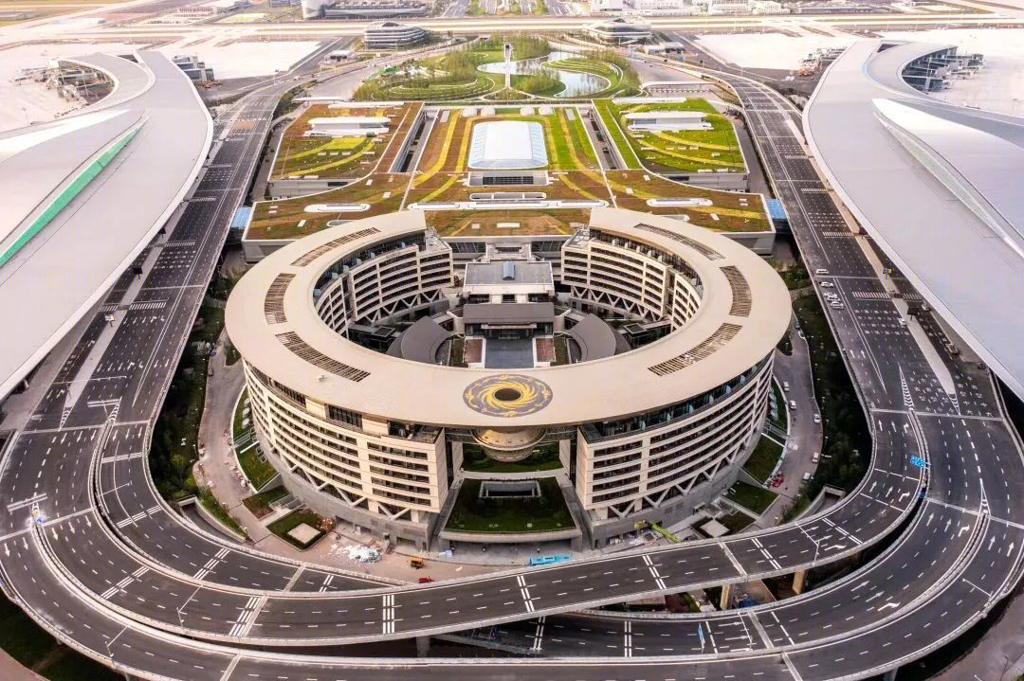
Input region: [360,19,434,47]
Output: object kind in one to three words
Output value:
building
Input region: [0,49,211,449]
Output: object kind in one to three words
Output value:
building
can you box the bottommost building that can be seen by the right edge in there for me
[804,39,1024,447]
